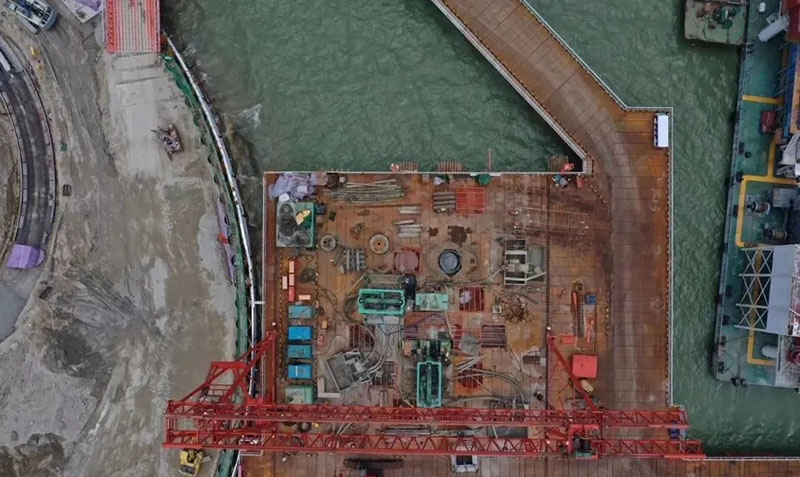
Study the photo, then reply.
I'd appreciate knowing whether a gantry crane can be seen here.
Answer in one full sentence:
Yes, looking at the shot, I can spot a gantry crane.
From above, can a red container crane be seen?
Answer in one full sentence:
Yes, a red container crane can be made out from above.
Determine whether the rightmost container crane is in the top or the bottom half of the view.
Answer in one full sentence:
Seen from above, the rightmost container crane lies in the bottom half of the view.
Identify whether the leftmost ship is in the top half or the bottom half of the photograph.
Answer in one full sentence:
The leftmost ship is in the top half of the image.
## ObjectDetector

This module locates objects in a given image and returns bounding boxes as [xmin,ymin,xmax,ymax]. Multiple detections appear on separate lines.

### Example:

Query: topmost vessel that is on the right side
[680,0,746,49]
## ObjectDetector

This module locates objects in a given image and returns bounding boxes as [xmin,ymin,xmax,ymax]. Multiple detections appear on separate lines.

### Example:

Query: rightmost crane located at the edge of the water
[162,329,708,460]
